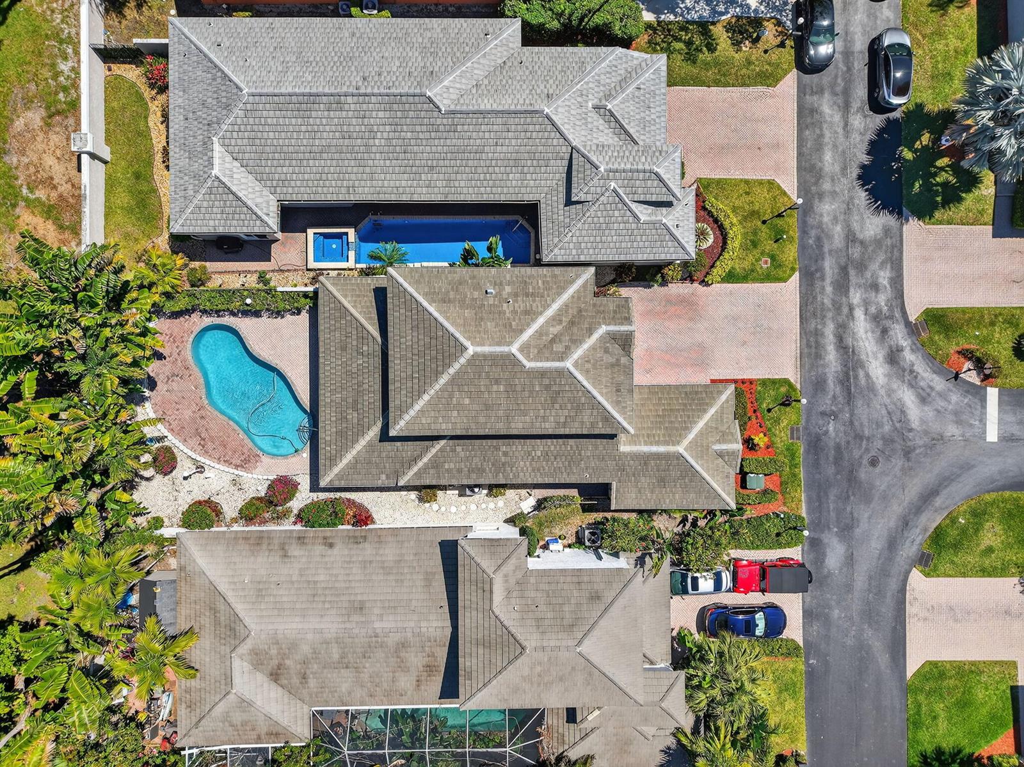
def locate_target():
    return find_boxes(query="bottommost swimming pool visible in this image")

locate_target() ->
[360,709,545,739]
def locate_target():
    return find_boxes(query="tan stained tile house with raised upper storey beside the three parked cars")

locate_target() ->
[175,515,690,767]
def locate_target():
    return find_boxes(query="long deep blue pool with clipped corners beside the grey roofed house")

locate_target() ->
[352,208,537,269]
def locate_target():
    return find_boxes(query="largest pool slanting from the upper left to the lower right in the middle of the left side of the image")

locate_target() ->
[187,318,317,460]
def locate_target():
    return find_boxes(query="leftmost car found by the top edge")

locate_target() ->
[801,0,841,74]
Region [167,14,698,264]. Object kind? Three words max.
house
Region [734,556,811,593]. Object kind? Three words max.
car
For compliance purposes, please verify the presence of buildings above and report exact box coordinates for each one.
[175,515,690,767]
[167,14,698,264]
[317,264,743,512]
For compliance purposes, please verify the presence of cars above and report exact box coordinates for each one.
[801,0,841,74]
[874,30,915,109]
[734,556,811,593]
[706,602,782,639]
[672,563,731,598]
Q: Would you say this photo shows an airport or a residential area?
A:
residential area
